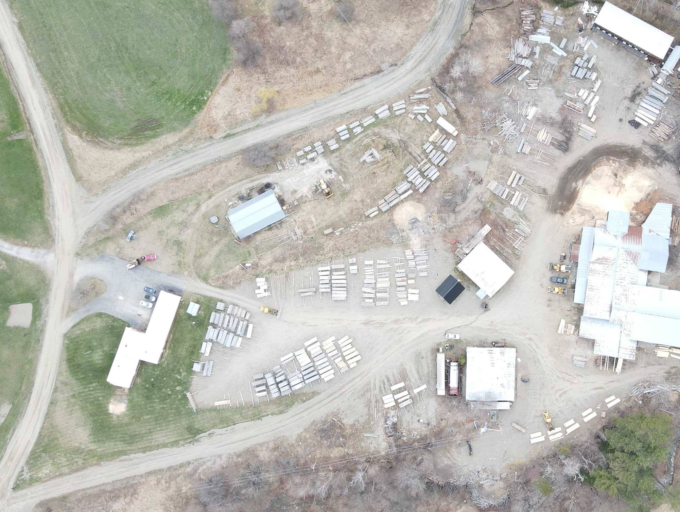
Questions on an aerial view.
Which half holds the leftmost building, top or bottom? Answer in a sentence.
The bottom half of the photo is where the leftmost building is.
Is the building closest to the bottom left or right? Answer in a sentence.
It is on the right.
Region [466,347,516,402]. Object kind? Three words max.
building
